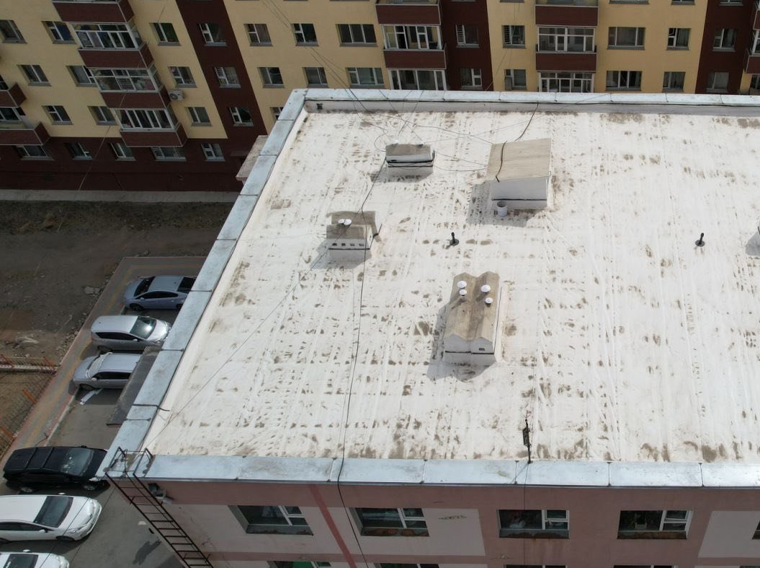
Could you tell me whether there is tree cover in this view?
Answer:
No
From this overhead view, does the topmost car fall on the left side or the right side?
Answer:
left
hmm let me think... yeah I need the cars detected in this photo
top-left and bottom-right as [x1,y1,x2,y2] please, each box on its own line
[120,272,204,310]
[0,490,100,543]
[0,550,70,568]
[71,348,145,391]
[0,436,117,489]
[86,312,181,352]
